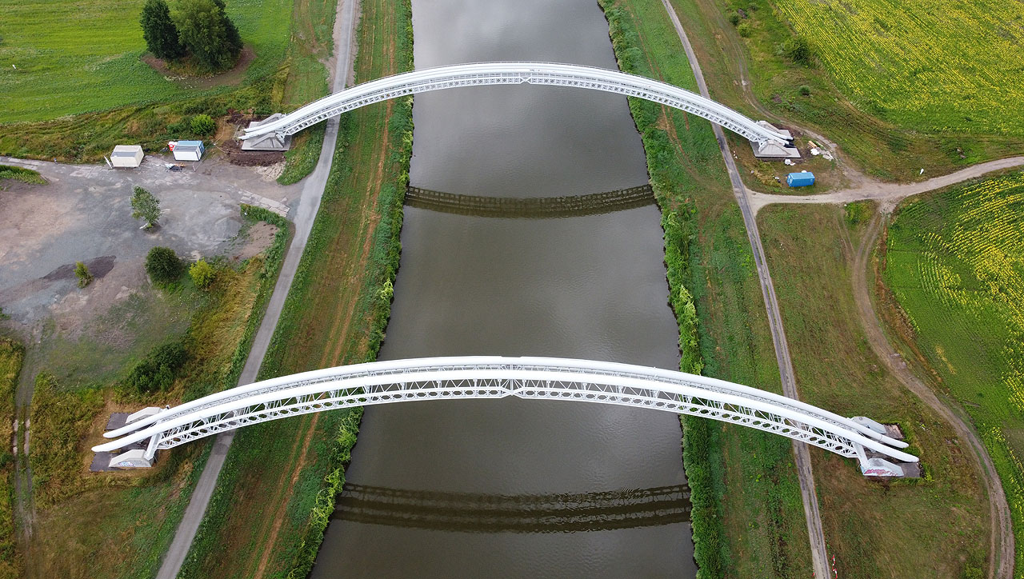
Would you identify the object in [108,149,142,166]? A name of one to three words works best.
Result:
building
